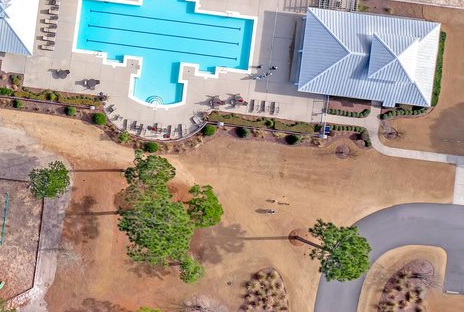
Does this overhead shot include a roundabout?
No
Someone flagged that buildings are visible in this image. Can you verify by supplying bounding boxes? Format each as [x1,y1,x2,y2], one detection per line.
[293,8,441,108]
[0,0,40,56]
